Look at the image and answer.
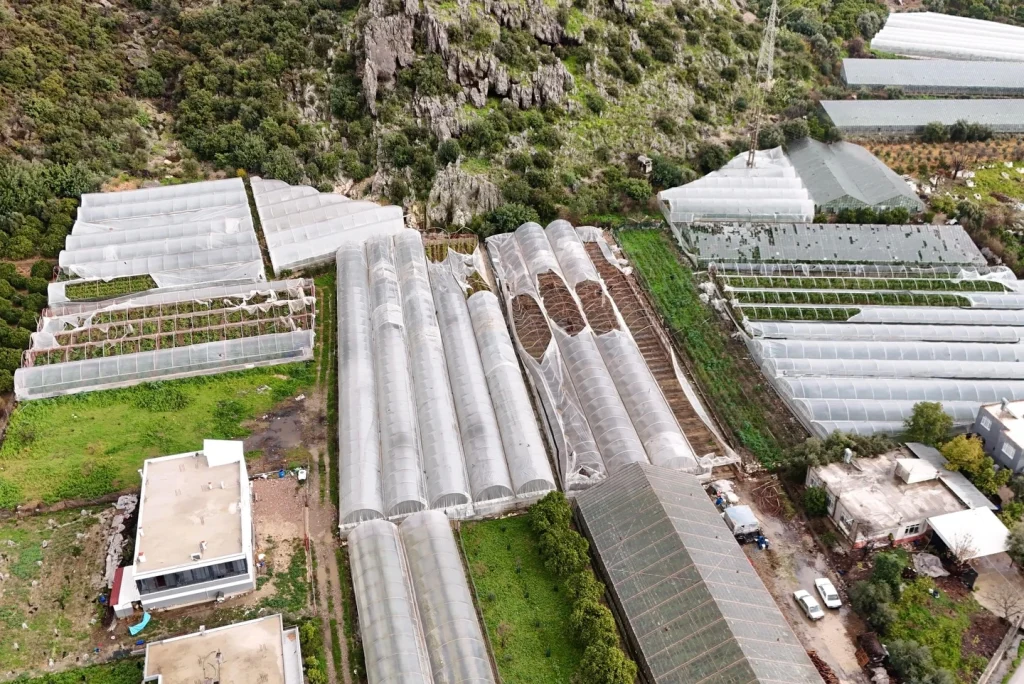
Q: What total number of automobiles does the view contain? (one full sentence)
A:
Altogether the scene contains 2 automobiles.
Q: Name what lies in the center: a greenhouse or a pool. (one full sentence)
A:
Visible in the center is a greenhouse.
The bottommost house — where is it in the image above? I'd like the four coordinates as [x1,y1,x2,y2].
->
[143,614,308,684]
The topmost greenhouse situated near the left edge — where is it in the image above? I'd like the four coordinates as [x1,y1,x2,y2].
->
[49,179,267,316]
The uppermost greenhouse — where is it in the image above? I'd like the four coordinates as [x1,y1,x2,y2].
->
[871,10,1024,60]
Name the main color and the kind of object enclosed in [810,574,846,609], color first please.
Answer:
white car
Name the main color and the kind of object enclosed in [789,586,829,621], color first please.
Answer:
white car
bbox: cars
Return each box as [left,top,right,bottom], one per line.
[789,586,829,621]
[810,574,846,609]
